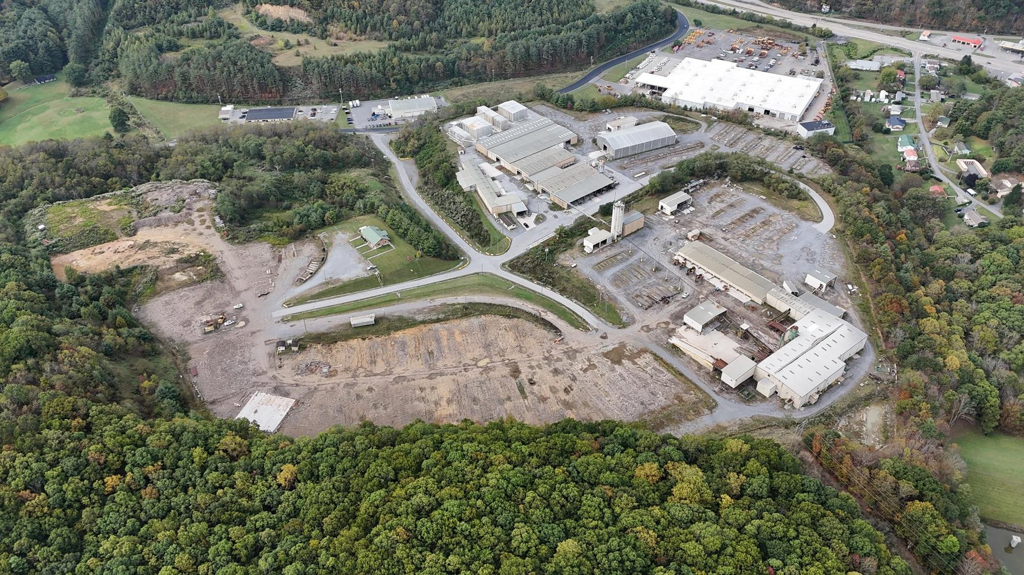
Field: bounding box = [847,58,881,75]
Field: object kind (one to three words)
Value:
building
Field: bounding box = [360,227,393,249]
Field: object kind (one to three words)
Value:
house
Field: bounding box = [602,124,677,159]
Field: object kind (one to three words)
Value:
shed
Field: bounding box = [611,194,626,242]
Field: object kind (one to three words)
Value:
silo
